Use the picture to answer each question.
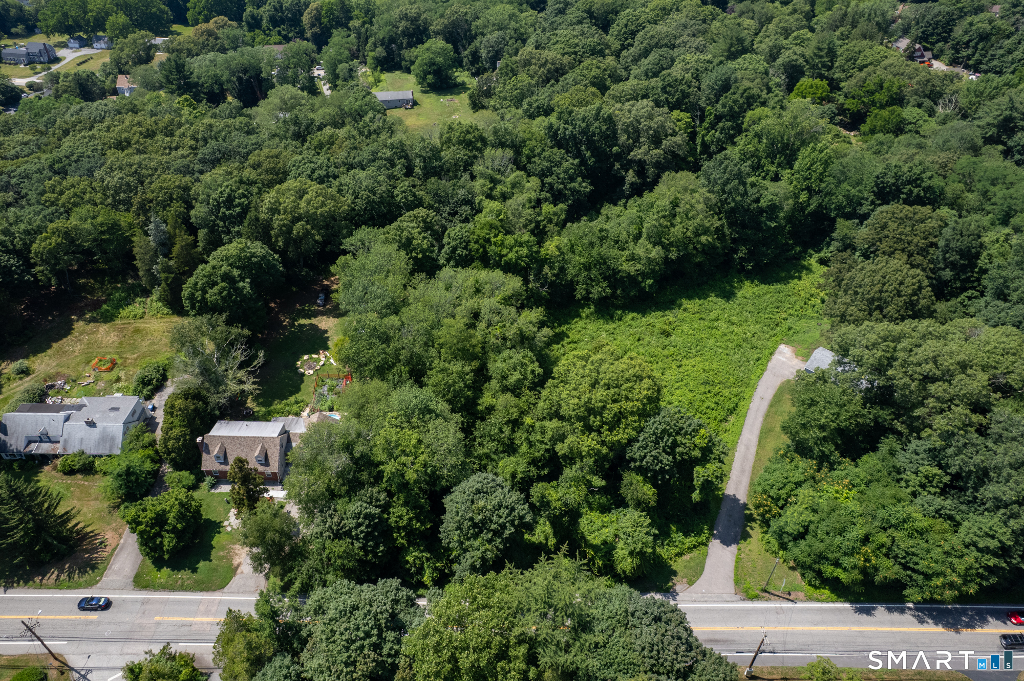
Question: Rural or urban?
rural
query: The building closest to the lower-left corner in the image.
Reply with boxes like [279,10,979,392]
[0,394,156,467]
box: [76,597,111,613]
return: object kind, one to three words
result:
car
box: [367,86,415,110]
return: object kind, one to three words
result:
house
